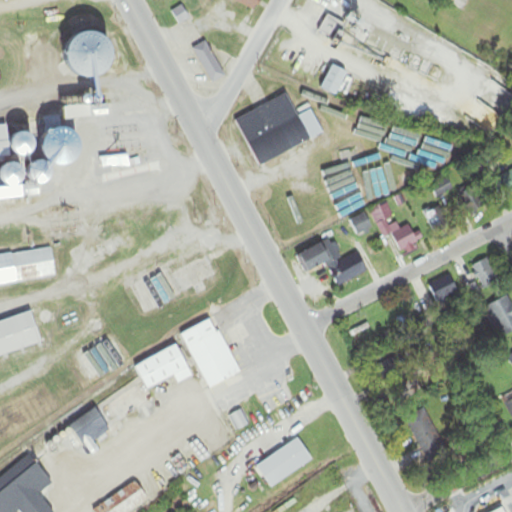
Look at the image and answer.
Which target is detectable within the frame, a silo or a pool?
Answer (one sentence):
Looking from above, you can make out a silo.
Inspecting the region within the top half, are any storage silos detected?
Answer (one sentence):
Yes, a storage silo is visible within the top half.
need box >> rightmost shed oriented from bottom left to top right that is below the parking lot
[254,436,314,488]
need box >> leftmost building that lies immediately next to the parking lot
[134,342,192,389]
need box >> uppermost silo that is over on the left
[68,30,117,79]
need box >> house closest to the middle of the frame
[293,237,343,270]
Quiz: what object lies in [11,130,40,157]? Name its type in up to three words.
silo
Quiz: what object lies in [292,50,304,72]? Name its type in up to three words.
vehicle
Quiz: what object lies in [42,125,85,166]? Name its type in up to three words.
silo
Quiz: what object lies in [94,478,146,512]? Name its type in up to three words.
building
